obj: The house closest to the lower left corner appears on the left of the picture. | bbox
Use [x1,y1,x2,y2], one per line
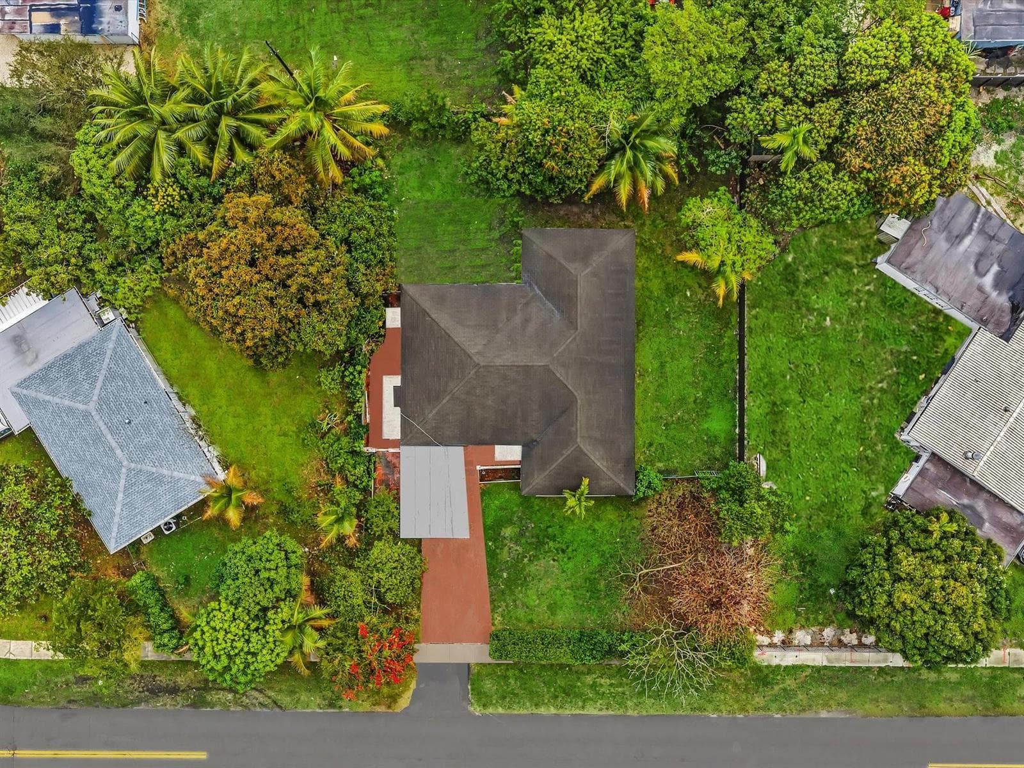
[0,275,228,555]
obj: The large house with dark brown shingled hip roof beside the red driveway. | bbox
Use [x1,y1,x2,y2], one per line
[394,227,636,497]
